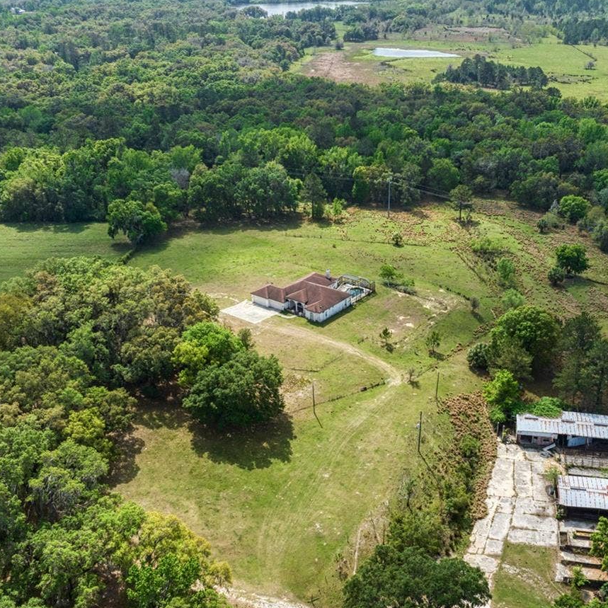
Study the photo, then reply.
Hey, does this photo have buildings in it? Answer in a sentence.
Yes, the frame does contain a building.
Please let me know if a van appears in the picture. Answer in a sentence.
No, there isn't any van down there.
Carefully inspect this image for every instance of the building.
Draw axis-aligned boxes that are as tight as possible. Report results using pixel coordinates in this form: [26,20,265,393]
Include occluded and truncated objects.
[514,409,608,452]
[248,271,354,323]
[555,474,608,523]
